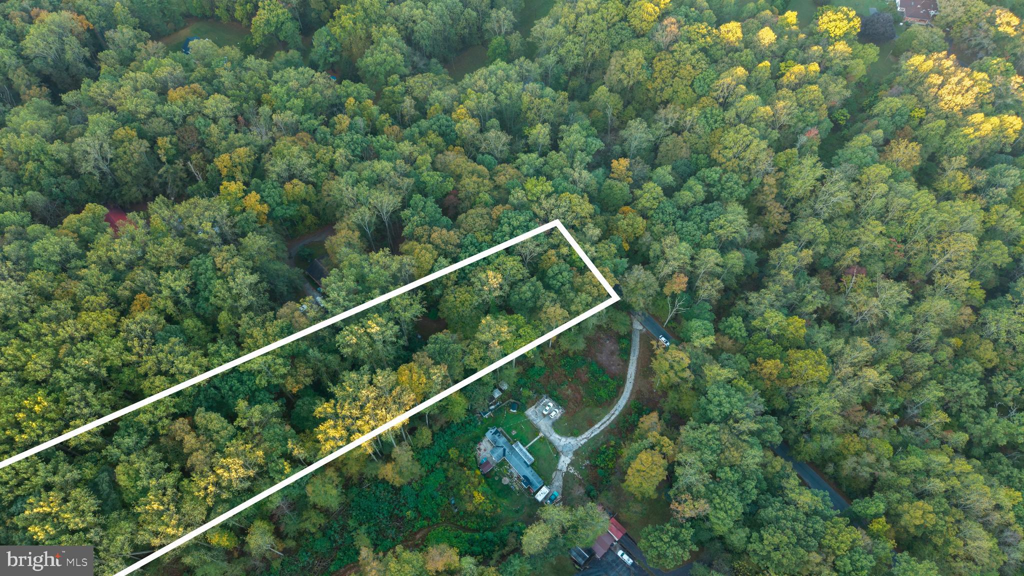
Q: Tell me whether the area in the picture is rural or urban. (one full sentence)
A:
This place is rural.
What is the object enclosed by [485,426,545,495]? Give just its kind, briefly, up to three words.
house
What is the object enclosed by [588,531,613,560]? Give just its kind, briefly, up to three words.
house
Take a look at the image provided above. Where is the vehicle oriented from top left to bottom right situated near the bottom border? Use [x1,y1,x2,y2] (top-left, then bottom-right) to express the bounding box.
[617,549,634,567]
